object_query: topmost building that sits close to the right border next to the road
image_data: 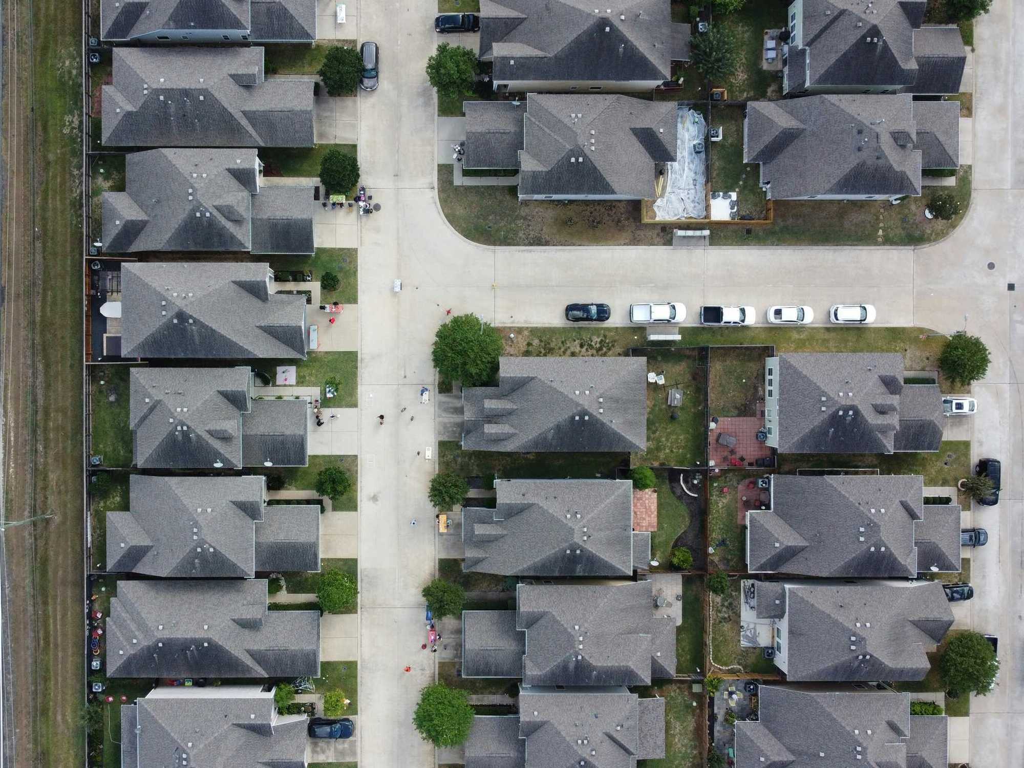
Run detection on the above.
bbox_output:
[783,0,973,99]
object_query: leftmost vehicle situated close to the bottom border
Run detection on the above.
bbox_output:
[309,716,353,741]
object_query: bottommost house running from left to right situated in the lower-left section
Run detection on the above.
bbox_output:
[121,684,310,768]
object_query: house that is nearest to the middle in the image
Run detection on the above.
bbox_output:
[462,356,647,452]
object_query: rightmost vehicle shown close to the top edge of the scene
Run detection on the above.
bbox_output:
[435,10,478,35]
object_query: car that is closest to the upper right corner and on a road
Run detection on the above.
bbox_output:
[827,302,874,325]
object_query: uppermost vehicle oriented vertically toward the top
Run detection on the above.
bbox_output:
[359,42,380,93]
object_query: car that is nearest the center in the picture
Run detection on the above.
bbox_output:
[565,300,610,323]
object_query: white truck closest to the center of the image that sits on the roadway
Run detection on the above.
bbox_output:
[628,300,686,324]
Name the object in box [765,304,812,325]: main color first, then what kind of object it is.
white car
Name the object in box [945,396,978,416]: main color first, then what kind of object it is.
white car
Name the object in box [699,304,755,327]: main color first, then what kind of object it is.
white truck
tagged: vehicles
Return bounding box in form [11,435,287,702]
[945,396,978,416]
[565,300,610,323]
[827,302,874,325]
[435,10,478,35]
[941,581,976,603]
[699,304,755,327]
[309,716,353,741]
[765,304,812,325]
[628,300,686,324]
[961,527,988,549]
[973,458,1001,504]
[359,42,380,93]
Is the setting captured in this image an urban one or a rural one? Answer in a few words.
urban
